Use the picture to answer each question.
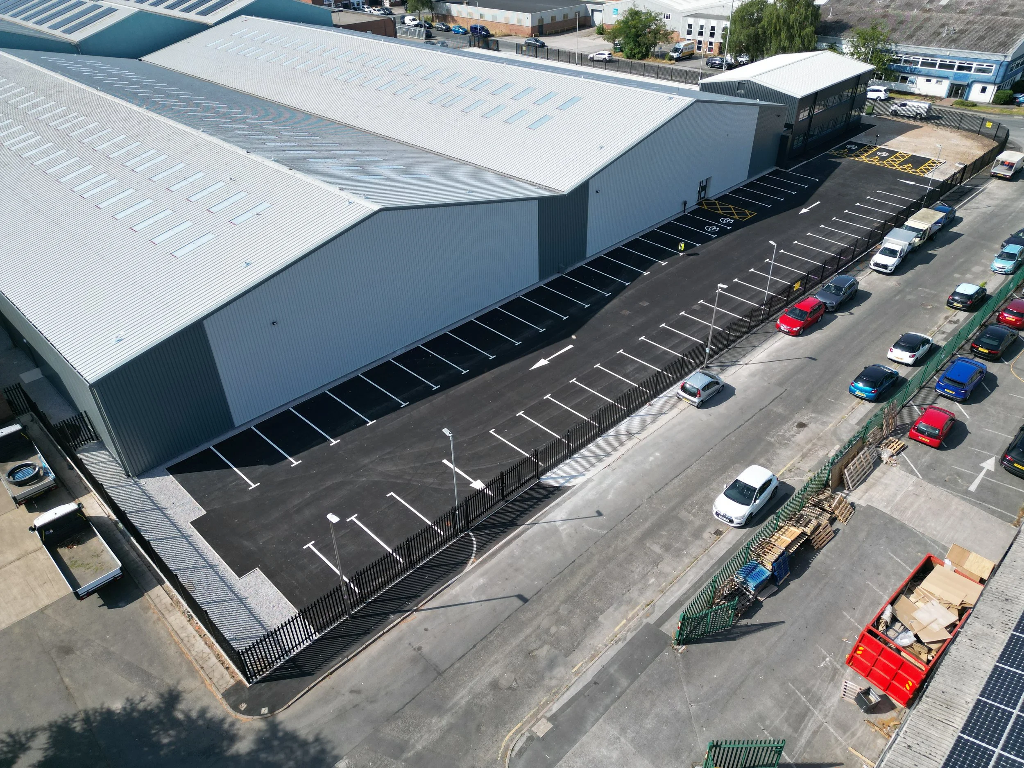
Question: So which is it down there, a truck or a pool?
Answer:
truck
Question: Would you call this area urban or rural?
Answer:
urban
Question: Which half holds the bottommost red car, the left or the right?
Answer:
right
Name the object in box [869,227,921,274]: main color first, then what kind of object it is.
white truck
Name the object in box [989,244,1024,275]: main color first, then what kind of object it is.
blue car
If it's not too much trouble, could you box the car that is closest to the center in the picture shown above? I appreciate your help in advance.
[675,370,726,410]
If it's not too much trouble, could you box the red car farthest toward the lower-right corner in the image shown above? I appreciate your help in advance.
[911,404,962,449]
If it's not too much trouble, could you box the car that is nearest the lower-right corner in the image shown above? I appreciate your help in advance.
[991,423,1024,482]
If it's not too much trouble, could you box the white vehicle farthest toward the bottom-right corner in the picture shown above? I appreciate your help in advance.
[713,462,783,527]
